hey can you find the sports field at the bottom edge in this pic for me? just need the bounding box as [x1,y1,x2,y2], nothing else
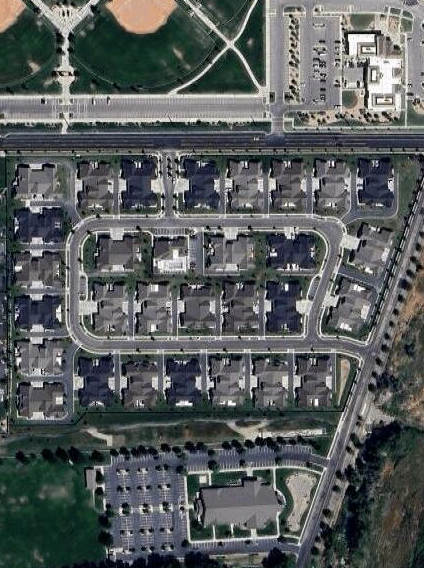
[0,454,111,568]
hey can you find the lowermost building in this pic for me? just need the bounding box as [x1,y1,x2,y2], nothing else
[195,479,284,532]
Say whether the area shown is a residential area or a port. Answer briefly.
residential area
